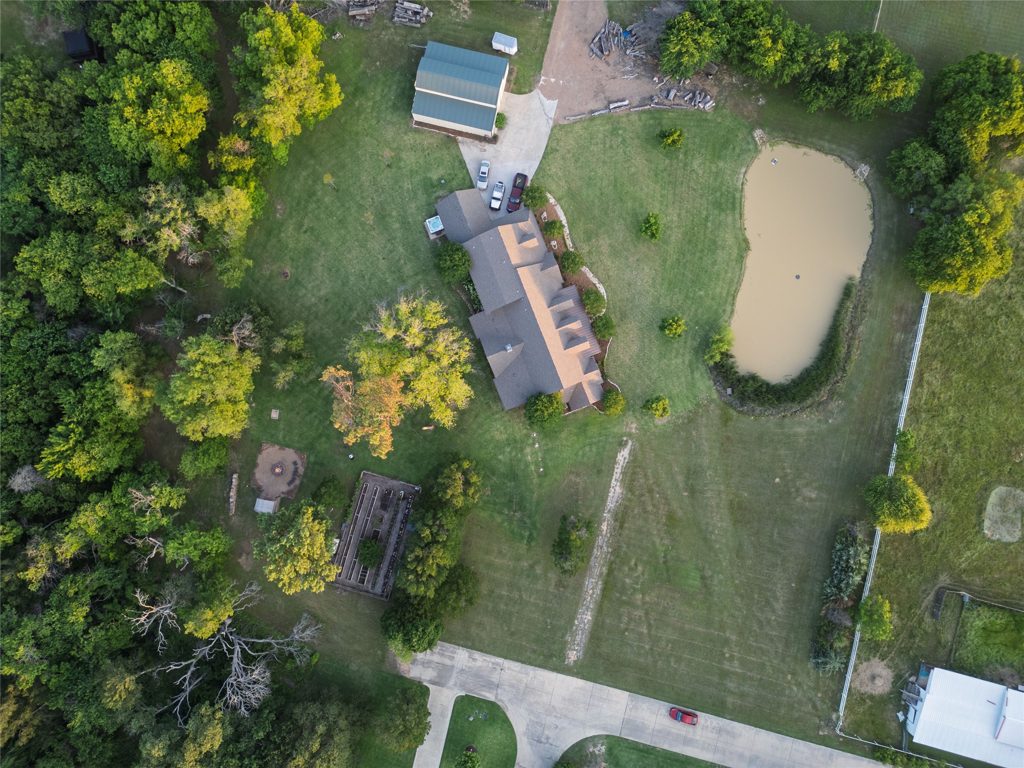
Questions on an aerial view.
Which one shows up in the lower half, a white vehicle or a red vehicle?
red vehicle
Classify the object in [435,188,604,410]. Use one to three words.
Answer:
house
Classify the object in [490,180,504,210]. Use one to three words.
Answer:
car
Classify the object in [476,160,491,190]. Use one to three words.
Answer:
car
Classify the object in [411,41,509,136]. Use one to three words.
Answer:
barn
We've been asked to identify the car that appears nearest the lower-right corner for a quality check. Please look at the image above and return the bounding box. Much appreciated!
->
[670,707,698,726]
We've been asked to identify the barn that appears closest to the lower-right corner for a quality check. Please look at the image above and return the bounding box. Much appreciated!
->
[904,667,1024,768]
